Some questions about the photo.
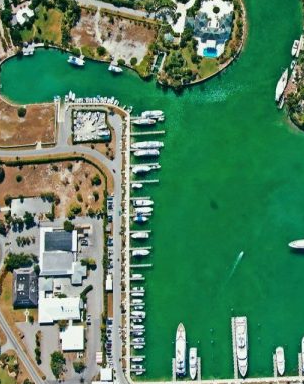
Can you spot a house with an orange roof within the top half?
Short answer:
No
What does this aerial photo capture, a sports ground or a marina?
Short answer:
marina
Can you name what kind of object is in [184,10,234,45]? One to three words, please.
house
